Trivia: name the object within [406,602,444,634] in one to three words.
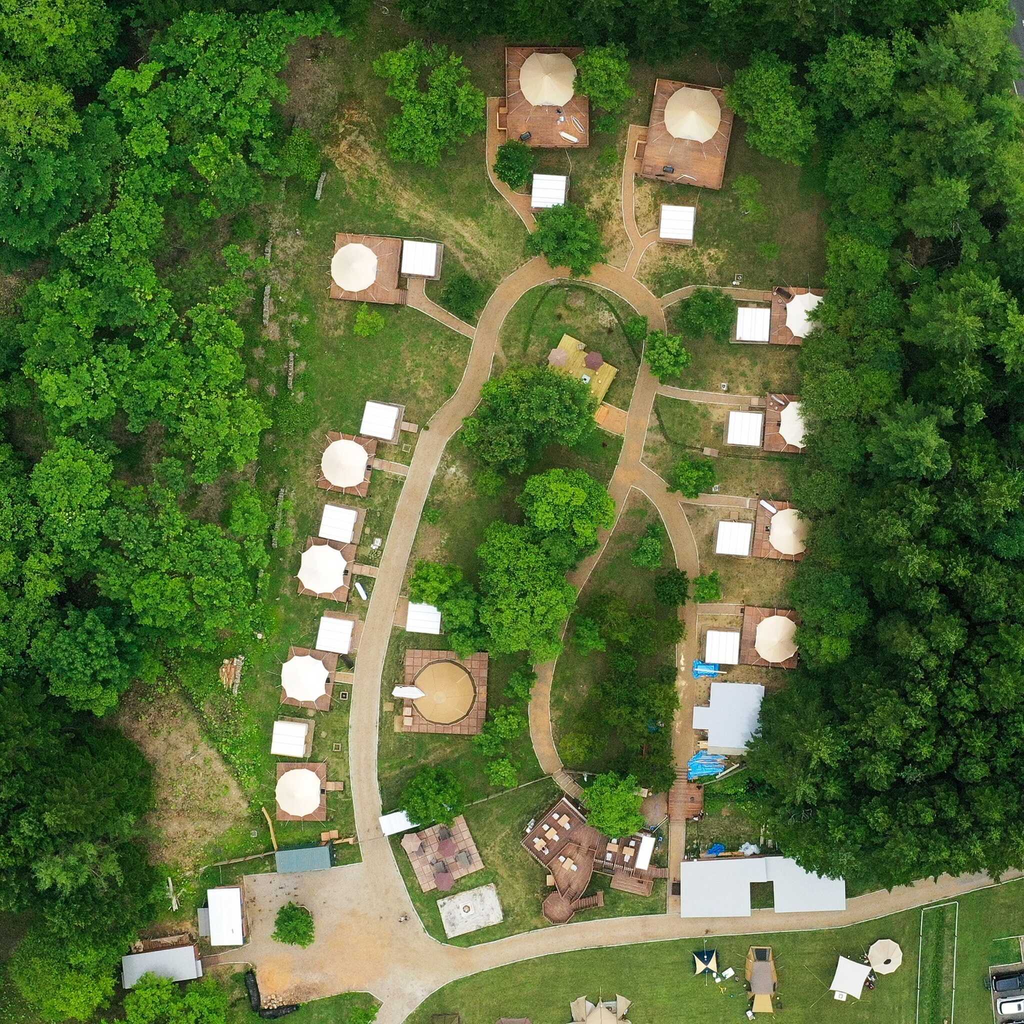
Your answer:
shed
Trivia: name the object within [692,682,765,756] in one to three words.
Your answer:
building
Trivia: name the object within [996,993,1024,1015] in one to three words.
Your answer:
car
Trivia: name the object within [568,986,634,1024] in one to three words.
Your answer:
tent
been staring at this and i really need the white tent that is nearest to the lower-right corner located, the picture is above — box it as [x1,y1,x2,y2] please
[868,939,902,974]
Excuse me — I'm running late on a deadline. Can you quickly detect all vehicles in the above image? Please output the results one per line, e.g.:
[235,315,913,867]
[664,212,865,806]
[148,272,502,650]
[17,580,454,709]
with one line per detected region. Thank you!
[996,993,1024,1015]
[992,972,1024,995]
[1002,1018,1024,1024]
